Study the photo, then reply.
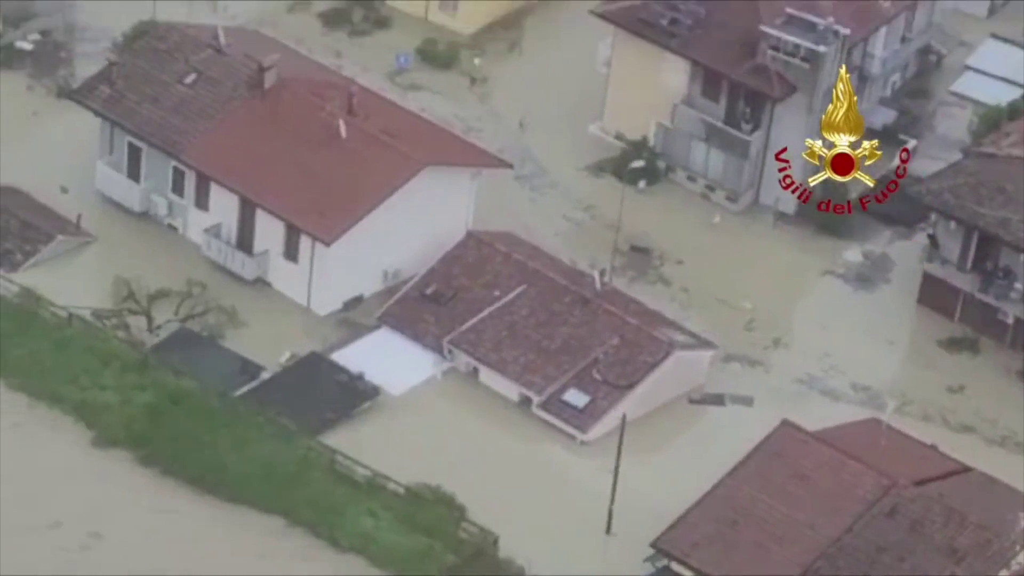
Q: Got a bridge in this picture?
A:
No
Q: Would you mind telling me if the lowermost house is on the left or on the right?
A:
right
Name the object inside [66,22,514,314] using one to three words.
house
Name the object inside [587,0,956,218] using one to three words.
house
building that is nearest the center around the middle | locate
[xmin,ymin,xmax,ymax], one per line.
[377,231,718,447]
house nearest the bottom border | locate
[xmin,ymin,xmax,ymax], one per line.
[646,411,1024,576]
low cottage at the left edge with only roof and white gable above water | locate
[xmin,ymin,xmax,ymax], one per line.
[0,180,97,282]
